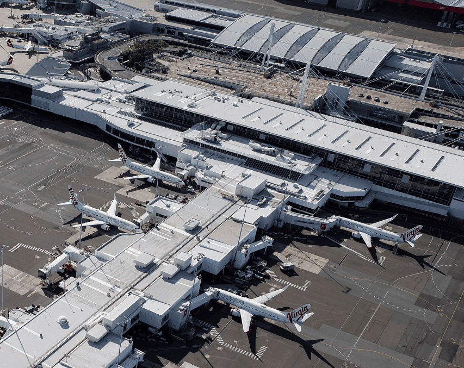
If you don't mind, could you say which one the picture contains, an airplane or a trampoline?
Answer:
airplane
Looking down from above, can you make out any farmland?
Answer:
No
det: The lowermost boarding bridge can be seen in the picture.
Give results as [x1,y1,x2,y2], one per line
[118,343,149,368]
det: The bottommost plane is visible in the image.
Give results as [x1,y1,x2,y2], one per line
[204,283,313,332]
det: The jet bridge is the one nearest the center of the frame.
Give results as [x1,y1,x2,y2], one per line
[172,170,193,191]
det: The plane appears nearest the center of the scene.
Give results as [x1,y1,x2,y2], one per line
[110,145,177,187]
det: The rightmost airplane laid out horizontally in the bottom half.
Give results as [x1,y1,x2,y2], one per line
[325,213,422,248]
